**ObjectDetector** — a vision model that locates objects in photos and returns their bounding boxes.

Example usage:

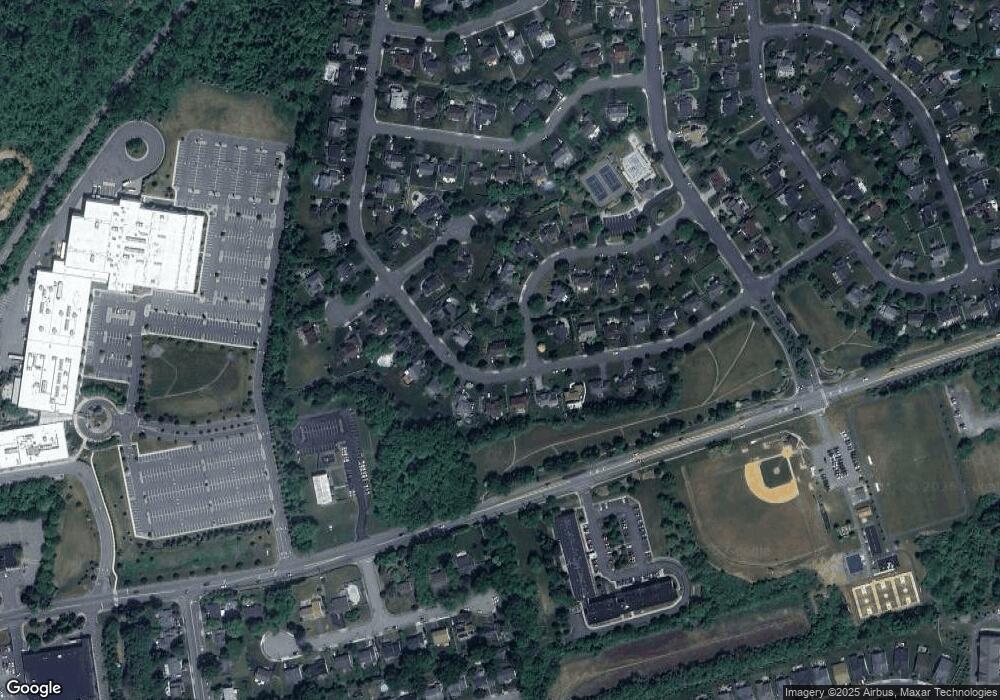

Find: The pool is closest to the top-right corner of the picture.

[946,68,965,84]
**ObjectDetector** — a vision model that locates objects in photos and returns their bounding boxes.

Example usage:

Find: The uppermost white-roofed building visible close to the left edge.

[11,199,205,424]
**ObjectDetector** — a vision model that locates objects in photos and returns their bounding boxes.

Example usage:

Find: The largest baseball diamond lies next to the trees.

[681,443,834,579]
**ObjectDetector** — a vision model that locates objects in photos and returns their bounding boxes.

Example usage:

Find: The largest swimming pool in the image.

[621,150,656,186]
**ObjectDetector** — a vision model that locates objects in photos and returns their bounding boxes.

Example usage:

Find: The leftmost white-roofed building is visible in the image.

[0,422,68,469]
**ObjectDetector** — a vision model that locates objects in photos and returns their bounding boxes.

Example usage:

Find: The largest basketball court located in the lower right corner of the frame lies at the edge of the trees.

[858,572,924,619]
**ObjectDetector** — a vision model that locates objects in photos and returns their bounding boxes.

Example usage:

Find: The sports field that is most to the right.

[864,397,962,530]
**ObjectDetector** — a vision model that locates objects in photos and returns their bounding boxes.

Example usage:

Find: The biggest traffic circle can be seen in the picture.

[74,396,118,441]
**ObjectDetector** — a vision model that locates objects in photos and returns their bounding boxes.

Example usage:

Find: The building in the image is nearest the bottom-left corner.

[21,635,99,700]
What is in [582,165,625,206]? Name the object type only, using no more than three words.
tennis court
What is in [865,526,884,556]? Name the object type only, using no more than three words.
building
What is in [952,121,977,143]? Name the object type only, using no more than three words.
house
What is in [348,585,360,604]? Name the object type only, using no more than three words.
swimming pool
